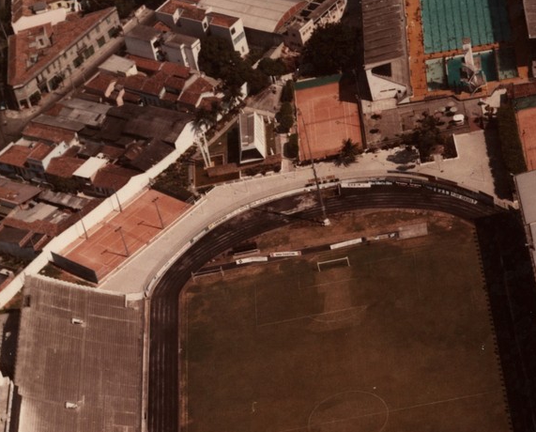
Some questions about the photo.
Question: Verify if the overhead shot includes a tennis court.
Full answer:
Yes, this view includes a tennis court.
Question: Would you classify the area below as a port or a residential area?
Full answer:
This looks like a residential area.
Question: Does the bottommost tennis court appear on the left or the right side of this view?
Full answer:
It is on the left.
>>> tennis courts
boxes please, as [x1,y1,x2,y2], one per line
[294,80,364,161]
[63,190,191,280]
[517,110,536,168]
